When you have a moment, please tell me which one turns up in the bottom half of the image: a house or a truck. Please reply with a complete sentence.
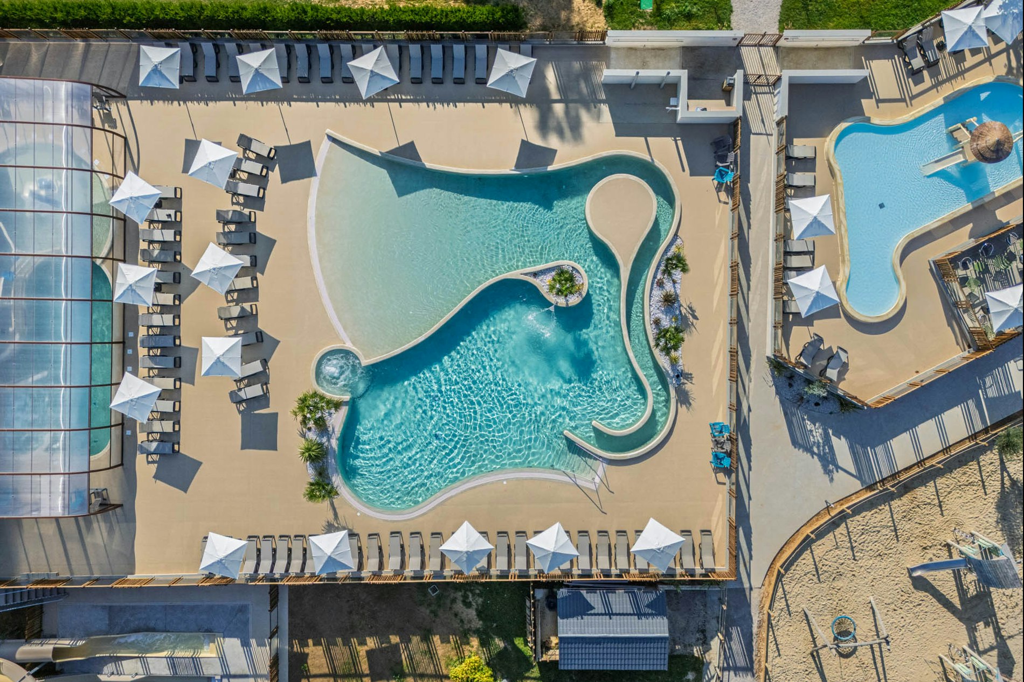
It is a house that can be seen in the bottom half of the image.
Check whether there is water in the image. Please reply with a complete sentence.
Yes, water shows up in the scene.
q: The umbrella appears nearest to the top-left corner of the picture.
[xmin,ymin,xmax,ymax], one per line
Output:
[138,45,185,90]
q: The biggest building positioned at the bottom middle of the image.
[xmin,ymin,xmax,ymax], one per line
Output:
[558,583,671,671]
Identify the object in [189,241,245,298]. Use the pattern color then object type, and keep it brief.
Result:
white umbrella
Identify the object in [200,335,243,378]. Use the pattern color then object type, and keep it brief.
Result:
white umbrella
